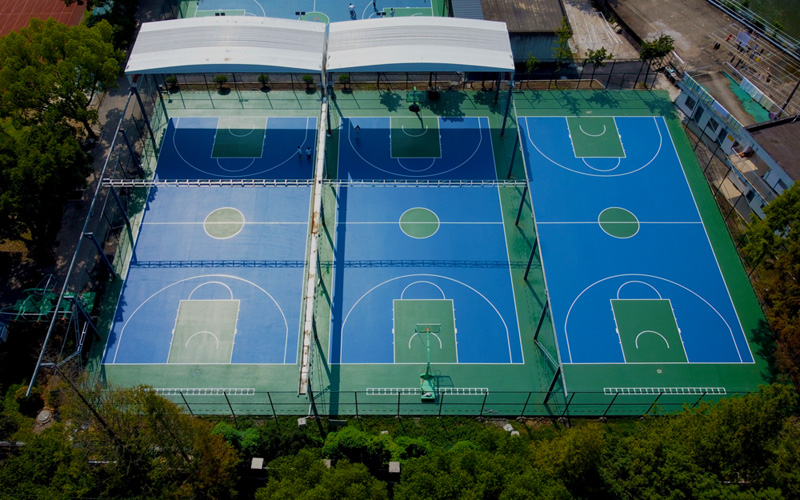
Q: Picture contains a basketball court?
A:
Yes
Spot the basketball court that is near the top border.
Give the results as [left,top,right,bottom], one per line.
[195,0,432,26]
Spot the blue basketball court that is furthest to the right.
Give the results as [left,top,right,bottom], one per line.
[518,116,754,394]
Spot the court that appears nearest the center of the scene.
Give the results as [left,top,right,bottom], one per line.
[328,116,523,395]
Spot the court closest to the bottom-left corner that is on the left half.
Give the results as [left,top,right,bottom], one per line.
[101,116,318,395]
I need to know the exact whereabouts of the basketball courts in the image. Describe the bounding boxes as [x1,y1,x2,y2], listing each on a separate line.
[518,116,754,394]
[101,116,318,395]
[195,0,432,26]
[328,116,523,395]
